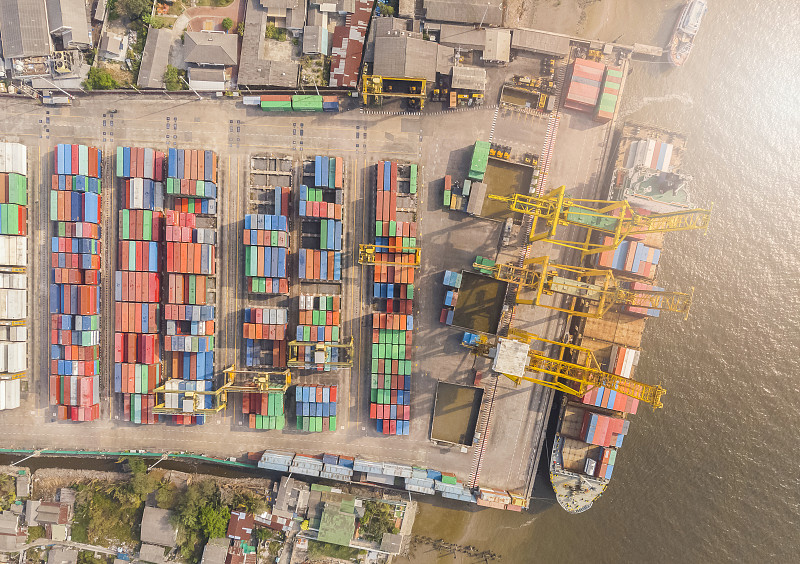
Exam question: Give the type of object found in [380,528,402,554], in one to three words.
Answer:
house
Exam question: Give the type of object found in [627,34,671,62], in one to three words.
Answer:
pier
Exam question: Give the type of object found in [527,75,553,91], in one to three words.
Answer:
work vehicle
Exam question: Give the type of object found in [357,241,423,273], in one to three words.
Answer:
container crane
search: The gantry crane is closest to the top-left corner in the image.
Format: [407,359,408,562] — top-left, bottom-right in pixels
[362,75,427,116]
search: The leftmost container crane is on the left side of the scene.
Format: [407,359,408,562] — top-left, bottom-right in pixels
[152,379,227,416]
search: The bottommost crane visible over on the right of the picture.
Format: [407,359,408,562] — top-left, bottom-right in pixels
[473,327,673,412]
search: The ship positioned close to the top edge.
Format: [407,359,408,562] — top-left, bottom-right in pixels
[667,0,712,67]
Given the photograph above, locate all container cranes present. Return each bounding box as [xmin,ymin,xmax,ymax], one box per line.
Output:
[473,255,695,329]
[357,241,423,273]
[473,327,673,412]
[288,336,355,369]
[491,177,714,255]
[152,379,227,416]
[224,359,295,395]
[362,75,427,116]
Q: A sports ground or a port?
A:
port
